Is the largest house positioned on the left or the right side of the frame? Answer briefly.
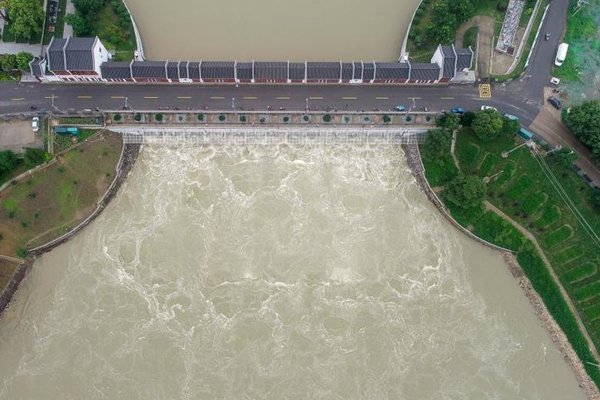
left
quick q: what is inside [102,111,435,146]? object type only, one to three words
dam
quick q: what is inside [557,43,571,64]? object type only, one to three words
vehicle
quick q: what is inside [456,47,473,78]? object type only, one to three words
house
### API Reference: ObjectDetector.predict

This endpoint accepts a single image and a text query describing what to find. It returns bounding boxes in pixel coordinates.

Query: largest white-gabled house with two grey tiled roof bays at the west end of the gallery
[45,36,111,81]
